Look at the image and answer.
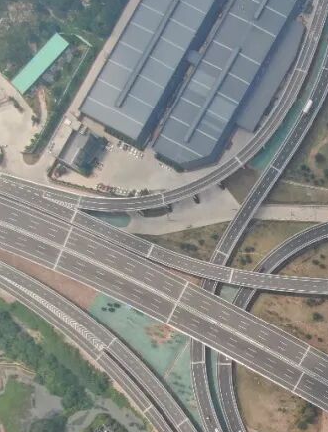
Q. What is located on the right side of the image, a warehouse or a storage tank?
warehouse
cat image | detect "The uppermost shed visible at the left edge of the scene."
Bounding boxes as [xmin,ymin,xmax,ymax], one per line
[12,34,73,96]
